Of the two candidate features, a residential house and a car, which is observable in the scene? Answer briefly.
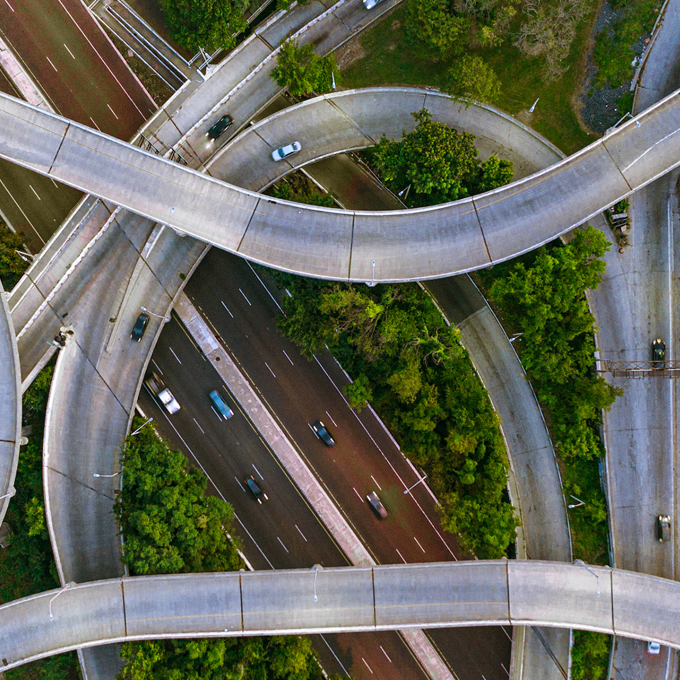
car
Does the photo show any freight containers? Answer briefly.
No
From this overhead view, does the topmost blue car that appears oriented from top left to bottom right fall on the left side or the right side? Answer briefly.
left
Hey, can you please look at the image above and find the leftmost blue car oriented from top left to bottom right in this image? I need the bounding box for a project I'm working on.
[208,389,234,420]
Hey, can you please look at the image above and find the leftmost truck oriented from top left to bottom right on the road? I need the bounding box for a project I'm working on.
[146,372,179,413]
